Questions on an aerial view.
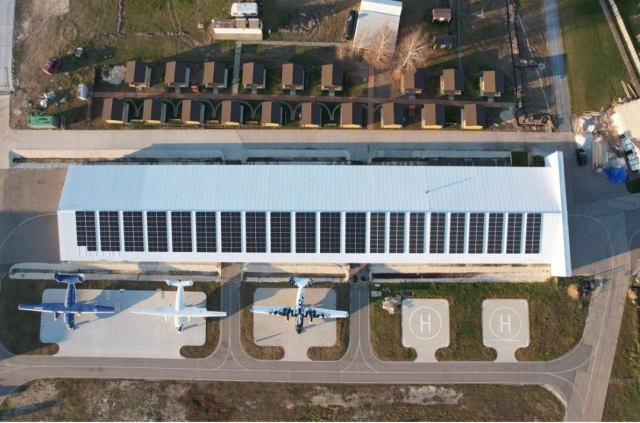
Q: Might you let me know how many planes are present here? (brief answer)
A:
3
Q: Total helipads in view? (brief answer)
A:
2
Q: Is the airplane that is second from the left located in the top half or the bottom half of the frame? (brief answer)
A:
bottom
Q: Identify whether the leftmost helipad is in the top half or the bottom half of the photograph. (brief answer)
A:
bottom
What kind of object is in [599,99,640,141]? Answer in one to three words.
shed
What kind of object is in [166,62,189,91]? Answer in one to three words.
building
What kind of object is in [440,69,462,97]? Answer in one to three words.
building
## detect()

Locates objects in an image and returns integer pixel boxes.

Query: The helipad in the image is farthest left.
[401,298,449,361]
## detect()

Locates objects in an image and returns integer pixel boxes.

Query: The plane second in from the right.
[131,277,228,335]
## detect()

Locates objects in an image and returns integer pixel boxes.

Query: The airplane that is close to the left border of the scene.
[19,274,116,332]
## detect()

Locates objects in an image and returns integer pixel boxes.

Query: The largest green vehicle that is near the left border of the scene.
[25,115,62,129]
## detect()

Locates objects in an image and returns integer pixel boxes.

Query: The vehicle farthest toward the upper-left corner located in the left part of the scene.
[42,54,62,77]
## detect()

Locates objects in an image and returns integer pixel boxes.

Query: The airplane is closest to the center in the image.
[251,277,348,335]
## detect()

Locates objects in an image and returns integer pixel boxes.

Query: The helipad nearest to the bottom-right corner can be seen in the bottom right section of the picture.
[483,298,531,362]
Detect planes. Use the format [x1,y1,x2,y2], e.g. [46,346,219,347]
[19,274,116,332]
[251,277,348,335]
[131,277,228,335]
